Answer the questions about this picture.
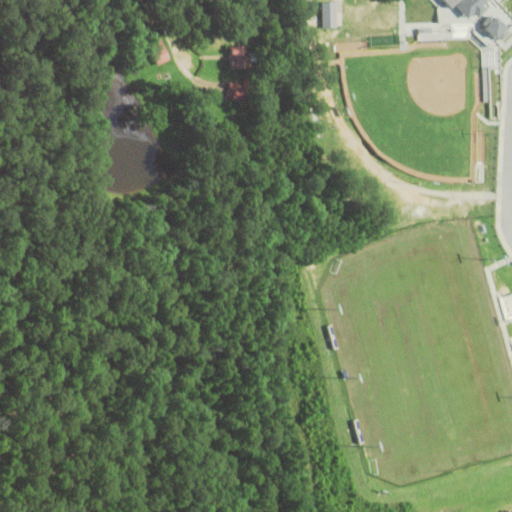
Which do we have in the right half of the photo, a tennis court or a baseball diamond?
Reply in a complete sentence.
The feature located in the right half of the photo is a baseball diamond.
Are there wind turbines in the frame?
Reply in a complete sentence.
No, no wind turbine can be seen from above.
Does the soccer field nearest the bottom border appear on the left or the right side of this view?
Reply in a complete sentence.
It is on the right.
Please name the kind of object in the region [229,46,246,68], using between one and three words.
house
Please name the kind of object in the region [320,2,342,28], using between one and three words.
barn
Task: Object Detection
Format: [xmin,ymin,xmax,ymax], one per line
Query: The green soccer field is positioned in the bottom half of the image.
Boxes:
[320,218,512,486]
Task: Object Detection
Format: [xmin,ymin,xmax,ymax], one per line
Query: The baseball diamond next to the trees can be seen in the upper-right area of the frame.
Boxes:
[336,42,484,184]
